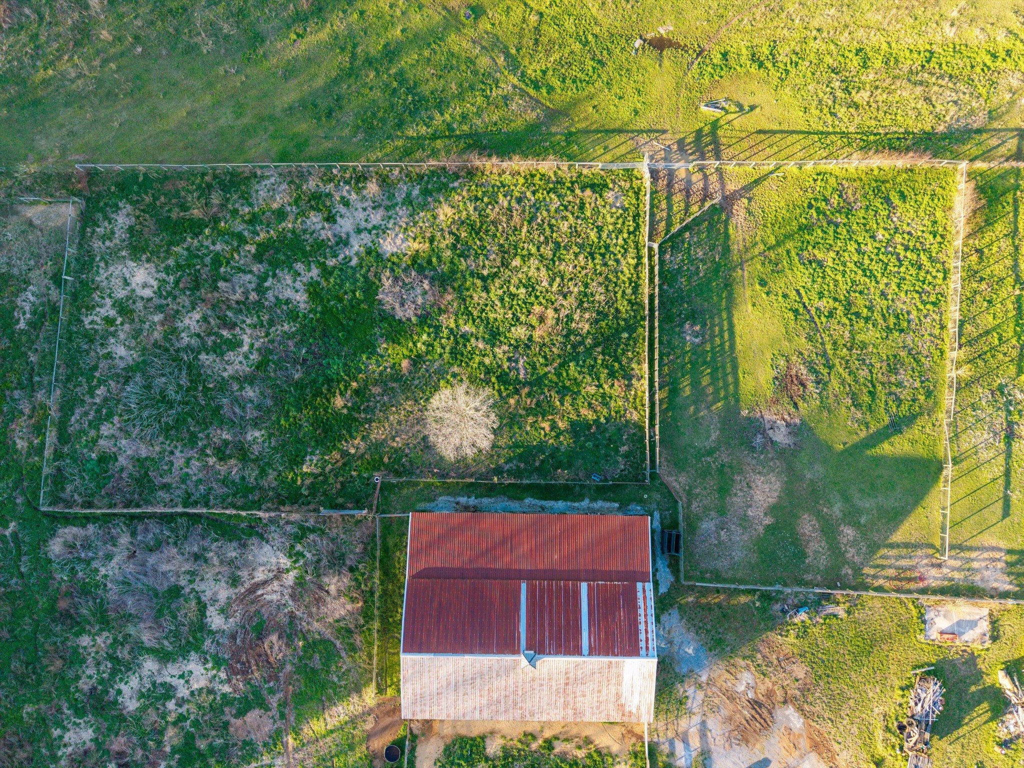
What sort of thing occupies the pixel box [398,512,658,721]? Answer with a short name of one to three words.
barn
